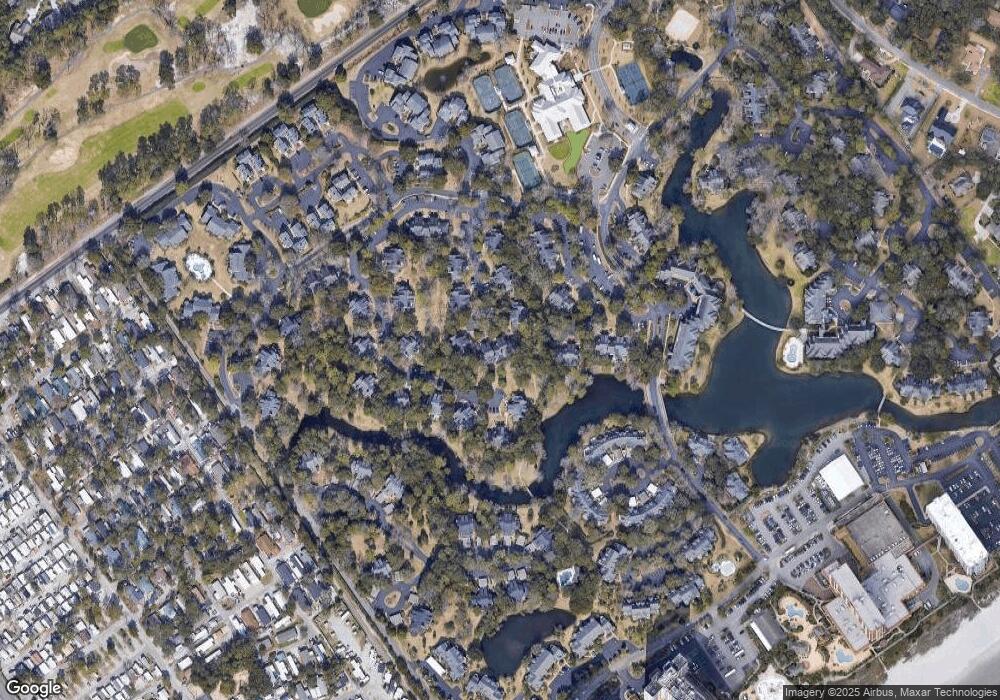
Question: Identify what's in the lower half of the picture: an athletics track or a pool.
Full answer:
You can see a pool in the lower half of the picture.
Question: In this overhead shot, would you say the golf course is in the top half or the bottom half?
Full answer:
You can find the golf course in the top half.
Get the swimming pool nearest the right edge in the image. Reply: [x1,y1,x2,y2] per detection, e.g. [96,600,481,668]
[944,573,972,593]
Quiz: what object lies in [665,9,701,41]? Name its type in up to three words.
sports court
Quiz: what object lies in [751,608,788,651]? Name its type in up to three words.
building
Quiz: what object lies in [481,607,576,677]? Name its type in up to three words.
pond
